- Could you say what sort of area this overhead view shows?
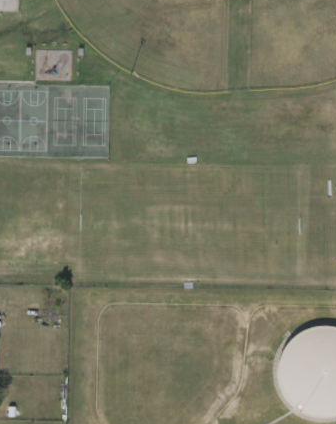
sports ground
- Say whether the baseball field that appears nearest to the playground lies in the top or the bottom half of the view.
top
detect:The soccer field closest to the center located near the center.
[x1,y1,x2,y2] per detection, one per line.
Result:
[80,164,300,280]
